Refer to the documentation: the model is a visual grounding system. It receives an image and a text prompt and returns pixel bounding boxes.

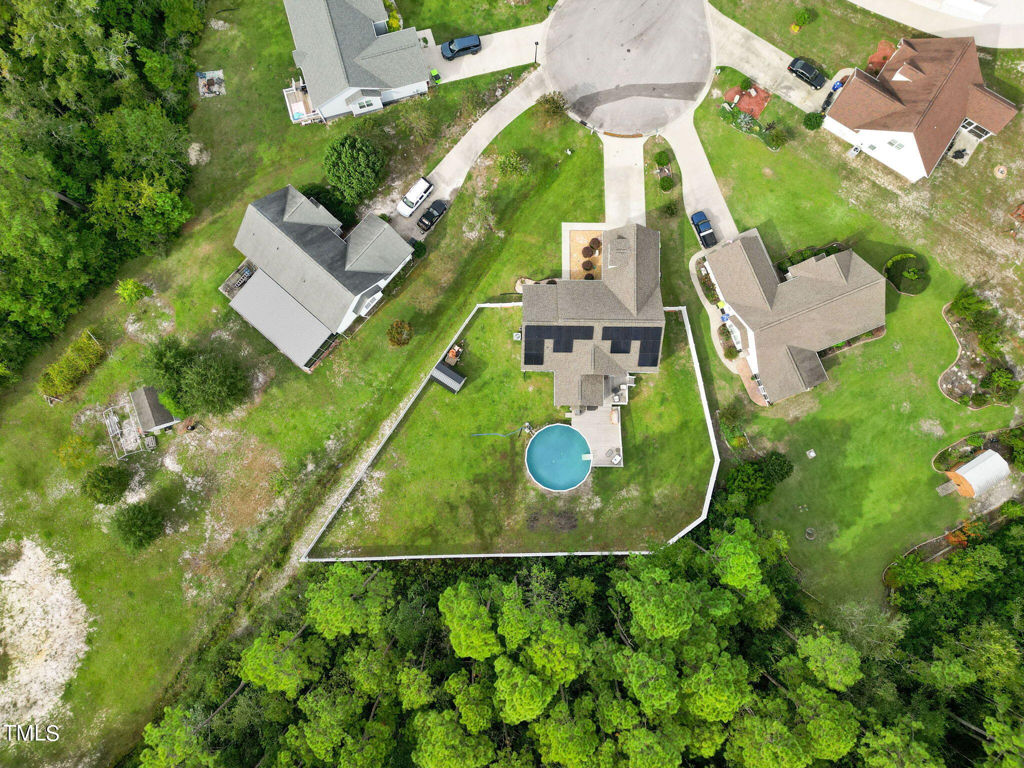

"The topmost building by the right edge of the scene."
[824,35,1020,181]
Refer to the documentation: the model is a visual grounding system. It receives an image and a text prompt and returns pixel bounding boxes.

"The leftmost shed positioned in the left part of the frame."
[128,382,182,435]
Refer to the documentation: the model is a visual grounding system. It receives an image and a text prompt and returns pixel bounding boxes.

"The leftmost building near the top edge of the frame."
[284,0,429,119]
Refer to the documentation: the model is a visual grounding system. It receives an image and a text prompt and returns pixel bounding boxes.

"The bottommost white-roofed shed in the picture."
[937,446,1014,497]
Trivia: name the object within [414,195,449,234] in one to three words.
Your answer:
car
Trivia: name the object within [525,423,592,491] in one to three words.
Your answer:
swimming pool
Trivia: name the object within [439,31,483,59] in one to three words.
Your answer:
car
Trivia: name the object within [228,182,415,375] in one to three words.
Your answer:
house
